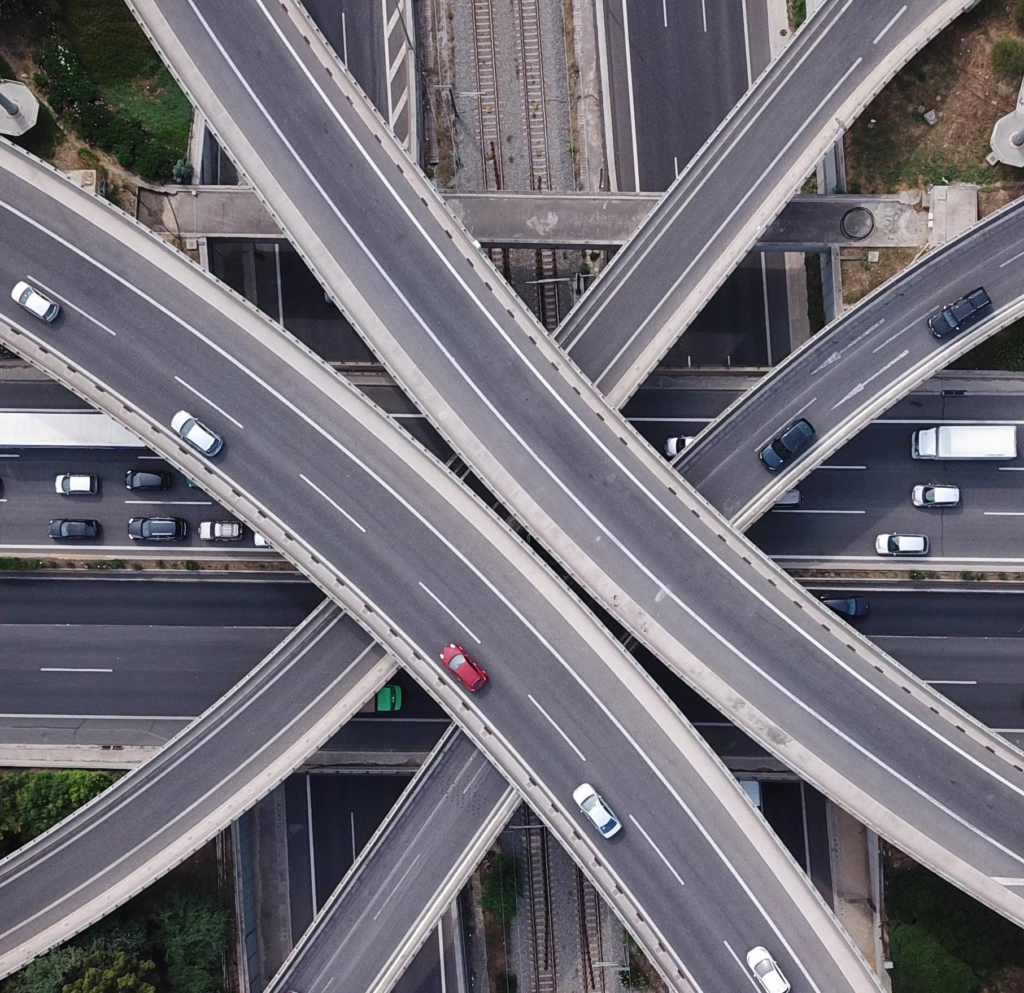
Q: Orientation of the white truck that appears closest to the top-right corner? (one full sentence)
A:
The white truck that appears closest to the top-right corner is laid out from side to side.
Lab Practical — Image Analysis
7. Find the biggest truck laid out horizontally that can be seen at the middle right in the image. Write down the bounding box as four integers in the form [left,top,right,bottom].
[910,425,1017,459]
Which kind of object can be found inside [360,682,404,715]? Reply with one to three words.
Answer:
truck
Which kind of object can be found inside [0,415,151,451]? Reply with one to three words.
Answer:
truck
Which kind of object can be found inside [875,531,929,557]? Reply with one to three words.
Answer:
car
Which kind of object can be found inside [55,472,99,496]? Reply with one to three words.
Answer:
car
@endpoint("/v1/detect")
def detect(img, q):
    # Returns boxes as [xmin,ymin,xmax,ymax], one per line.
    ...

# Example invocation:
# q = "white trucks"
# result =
[910,425,1017,459]
[0,415,151,451]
